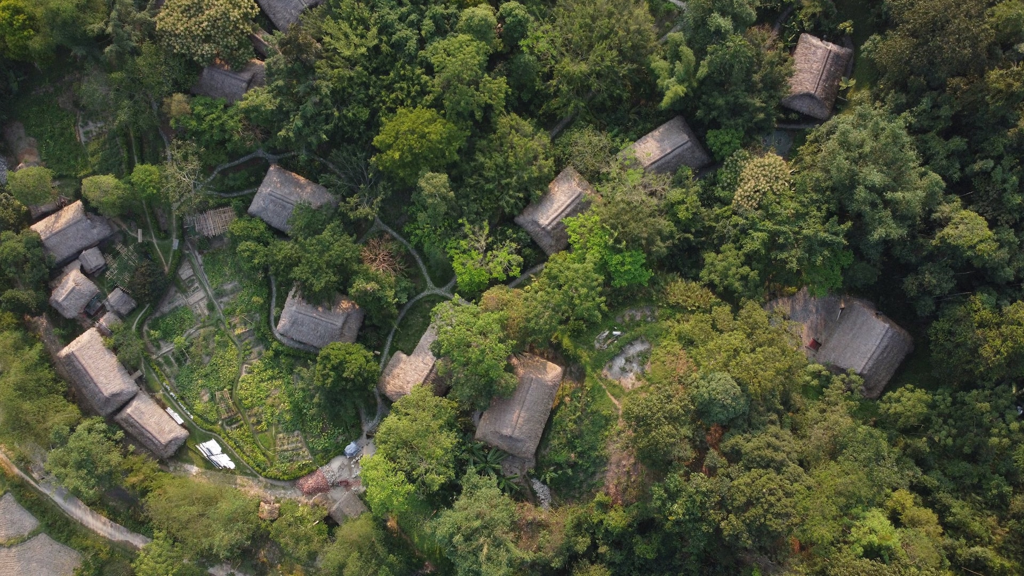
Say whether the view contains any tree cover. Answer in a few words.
Yes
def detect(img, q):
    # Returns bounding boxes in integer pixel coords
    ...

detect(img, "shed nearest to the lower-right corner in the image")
[817,298,914,399]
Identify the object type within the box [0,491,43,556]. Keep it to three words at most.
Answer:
shed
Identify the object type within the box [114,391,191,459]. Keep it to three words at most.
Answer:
shed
